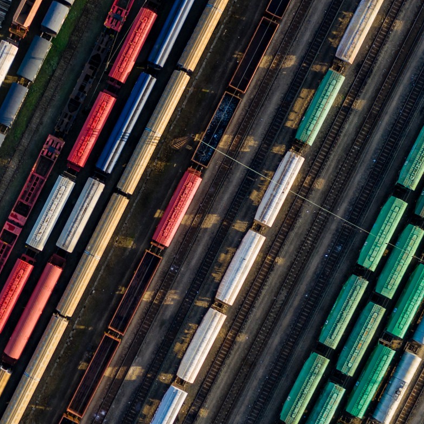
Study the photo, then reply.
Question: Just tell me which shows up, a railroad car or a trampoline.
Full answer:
I can see a railroad car in this picture.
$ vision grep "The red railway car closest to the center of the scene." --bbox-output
[149,166,202,250]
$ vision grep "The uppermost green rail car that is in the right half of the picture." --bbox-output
[289,67,345,151]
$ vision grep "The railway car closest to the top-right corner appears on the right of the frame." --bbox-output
[328,0,382,72]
